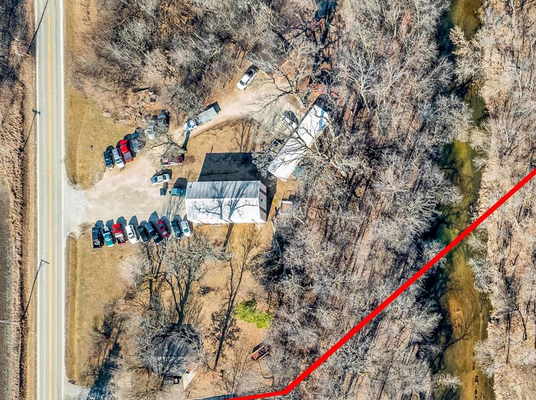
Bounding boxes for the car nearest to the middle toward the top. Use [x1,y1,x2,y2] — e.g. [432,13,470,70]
[267,137,286,152]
